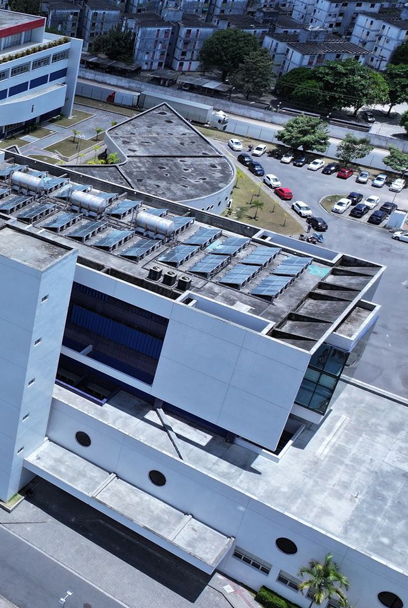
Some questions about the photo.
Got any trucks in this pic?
Yes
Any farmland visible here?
No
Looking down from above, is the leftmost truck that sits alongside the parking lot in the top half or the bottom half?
top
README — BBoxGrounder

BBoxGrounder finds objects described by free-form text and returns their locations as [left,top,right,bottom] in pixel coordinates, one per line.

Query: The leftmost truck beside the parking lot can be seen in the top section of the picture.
[155,89,238,128]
